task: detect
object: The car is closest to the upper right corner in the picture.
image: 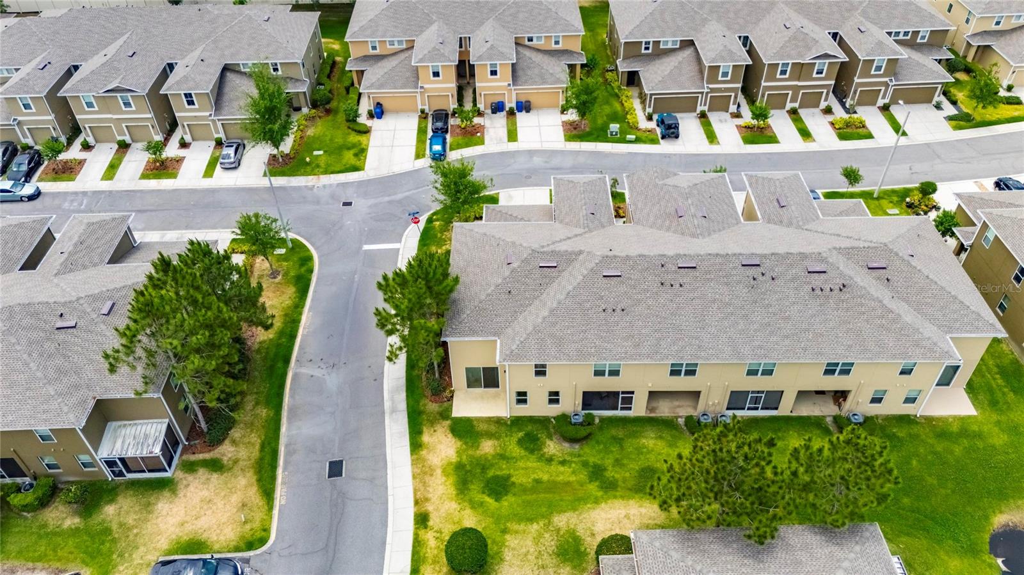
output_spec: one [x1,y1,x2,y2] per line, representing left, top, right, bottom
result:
[996,172,1024,193]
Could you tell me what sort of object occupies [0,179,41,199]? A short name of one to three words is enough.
car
